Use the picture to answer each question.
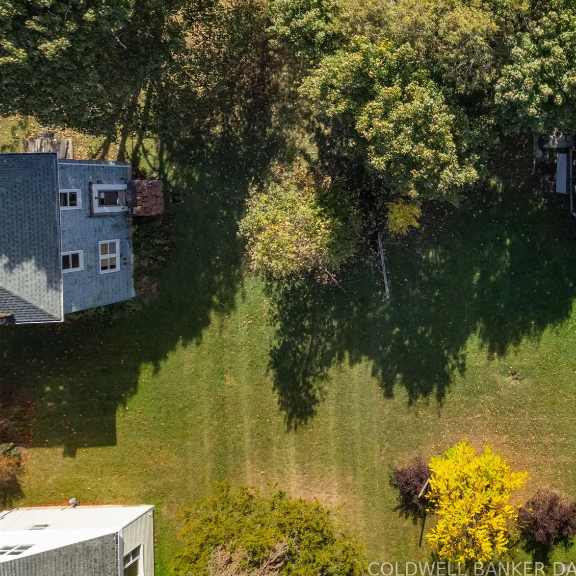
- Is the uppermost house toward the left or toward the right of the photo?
left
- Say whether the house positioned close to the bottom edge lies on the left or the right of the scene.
left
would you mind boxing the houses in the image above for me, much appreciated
[0,148,137,325]
[0,505,156,576]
